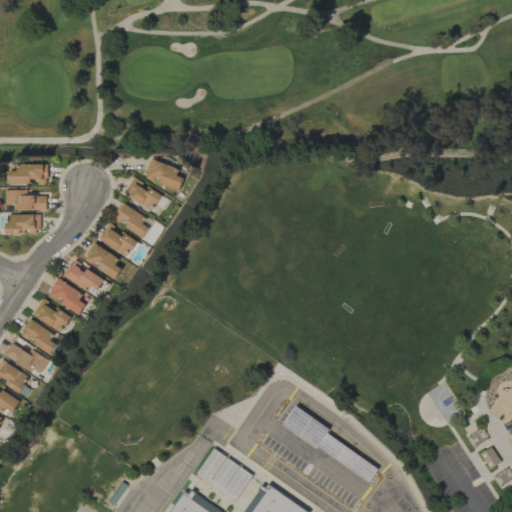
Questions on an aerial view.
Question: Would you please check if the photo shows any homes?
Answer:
Yes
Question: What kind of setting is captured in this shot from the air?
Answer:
sports ground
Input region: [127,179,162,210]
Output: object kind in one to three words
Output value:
house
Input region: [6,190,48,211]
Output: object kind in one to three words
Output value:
house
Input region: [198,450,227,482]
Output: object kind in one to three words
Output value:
building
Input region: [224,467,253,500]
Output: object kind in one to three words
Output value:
building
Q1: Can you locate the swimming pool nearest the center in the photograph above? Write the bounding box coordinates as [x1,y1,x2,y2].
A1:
[136,244,148,262]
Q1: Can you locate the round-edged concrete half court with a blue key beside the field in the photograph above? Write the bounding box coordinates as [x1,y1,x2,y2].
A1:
[420,384,462,426]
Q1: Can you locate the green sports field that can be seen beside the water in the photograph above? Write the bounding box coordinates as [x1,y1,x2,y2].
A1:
[22,165,512,512]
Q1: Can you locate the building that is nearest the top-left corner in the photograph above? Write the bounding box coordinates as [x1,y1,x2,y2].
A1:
[6,164,48,185]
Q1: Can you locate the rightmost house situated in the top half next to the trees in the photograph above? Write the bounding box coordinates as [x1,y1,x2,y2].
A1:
[146,158,186,190]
